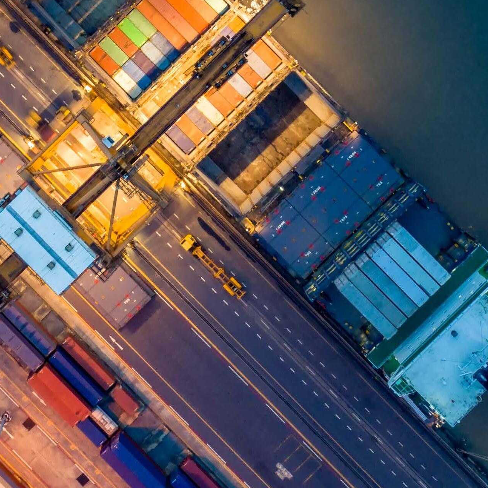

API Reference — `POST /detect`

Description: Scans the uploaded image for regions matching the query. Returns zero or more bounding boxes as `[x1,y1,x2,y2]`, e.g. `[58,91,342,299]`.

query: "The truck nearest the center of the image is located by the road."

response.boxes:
[178,232,248,304]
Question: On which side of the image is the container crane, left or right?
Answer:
left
